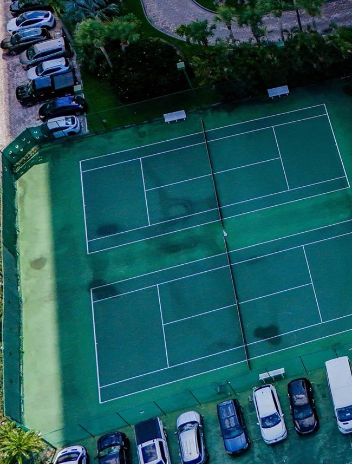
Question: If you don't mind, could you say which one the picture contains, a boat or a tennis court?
tennis court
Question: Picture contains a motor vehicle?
Yes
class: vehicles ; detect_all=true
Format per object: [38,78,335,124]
[50,116,87,139]
[325,353,352,431]
[252,384,287,447]
[173,411,208,464]
[51,448,89,464]
[96,436,131,464]
[16,75,79,108]
[19,37,73,68]
[9,14,56,36]
[216,395,250,461]
[287,376,320,438]
[3,28,52,56]
[133,417,169,464]
[26,55,76,85]
[39,98,90,123]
